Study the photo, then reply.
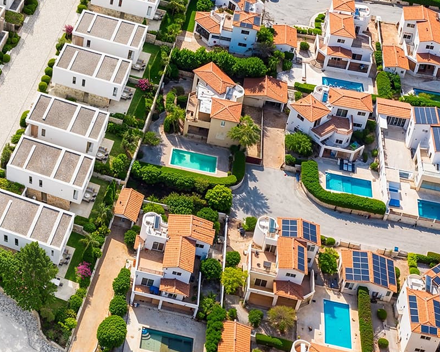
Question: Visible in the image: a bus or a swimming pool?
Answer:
swimming pool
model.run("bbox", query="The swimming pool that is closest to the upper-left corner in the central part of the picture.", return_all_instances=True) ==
[168,146,220,173]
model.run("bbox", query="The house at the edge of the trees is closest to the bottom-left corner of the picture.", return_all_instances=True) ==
[0,190,75,270]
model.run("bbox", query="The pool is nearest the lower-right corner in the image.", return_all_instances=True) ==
[320,297,355,351]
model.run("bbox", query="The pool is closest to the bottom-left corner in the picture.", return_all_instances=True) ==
[137,322,195,352]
